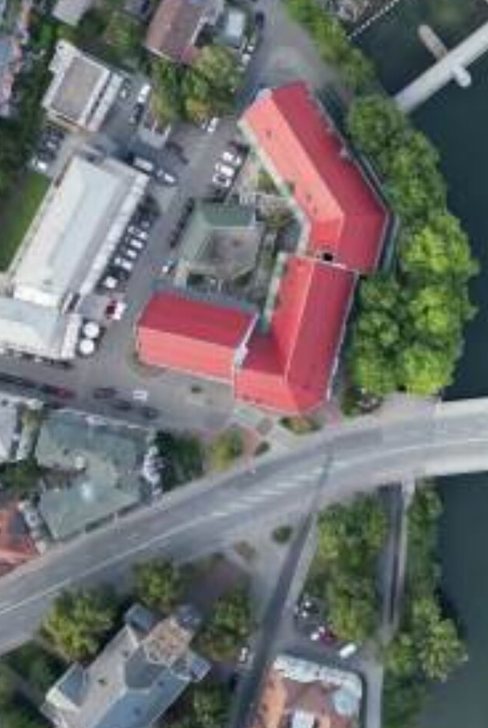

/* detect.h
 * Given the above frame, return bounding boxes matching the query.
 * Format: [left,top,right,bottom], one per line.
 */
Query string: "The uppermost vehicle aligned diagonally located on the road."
[251,9,269,29]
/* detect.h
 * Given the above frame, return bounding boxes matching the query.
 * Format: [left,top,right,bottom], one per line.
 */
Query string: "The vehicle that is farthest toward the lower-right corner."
[336,643,360,660]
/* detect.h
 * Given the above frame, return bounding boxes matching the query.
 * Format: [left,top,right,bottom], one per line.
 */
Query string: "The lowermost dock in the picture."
[450,68,471,92]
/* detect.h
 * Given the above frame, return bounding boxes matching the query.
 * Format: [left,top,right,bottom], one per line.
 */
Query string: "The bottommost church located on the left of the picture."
[41,602,213,728]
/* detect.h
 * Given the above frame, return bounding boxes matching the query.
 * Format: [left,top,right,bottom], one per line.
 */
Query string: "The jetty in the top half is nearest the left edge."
[416,26,449,64]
